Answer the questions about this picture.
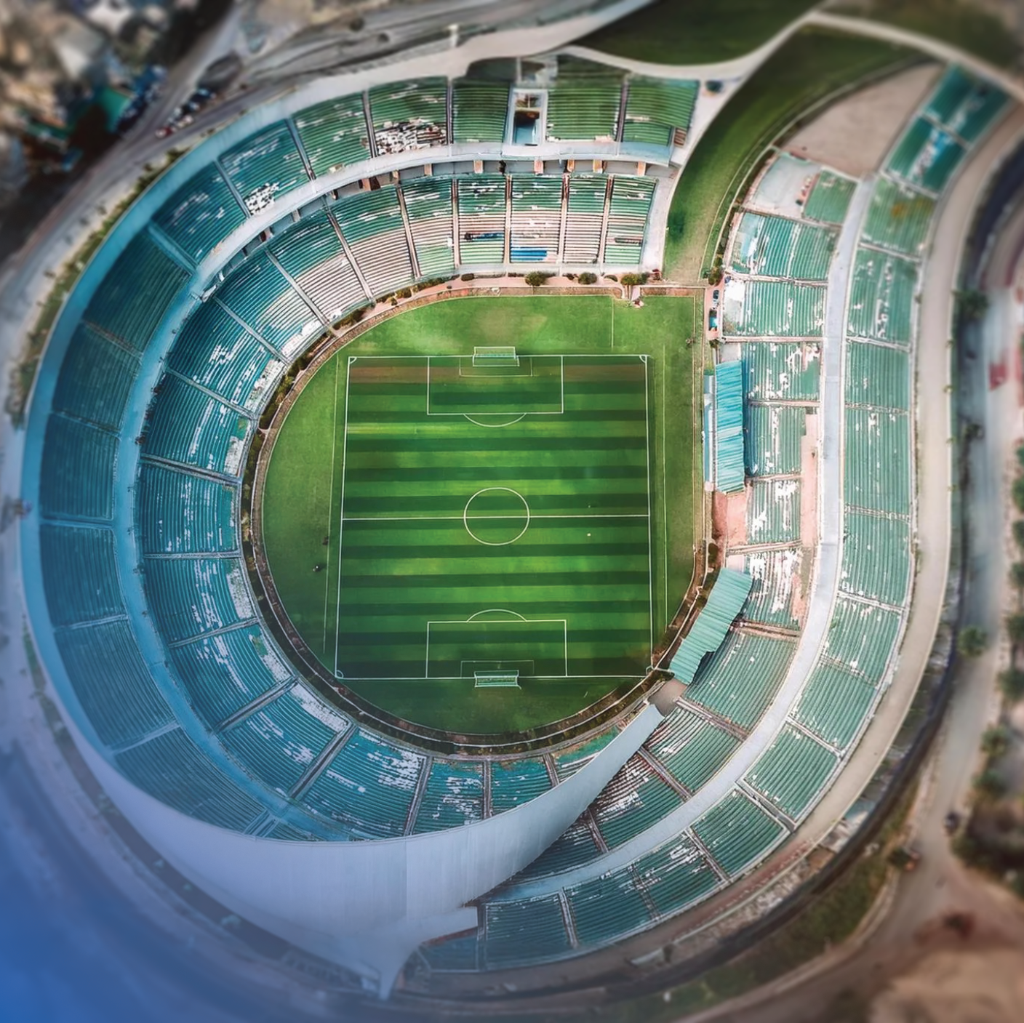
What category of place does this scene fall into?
sports ground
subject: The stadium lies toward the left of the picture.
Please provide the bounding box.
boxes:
[18,56,702,843]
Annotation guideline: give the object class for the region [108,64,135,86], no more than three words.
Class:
house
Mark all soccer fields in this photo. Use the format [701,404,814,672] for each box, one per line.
[323,295,666,679]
